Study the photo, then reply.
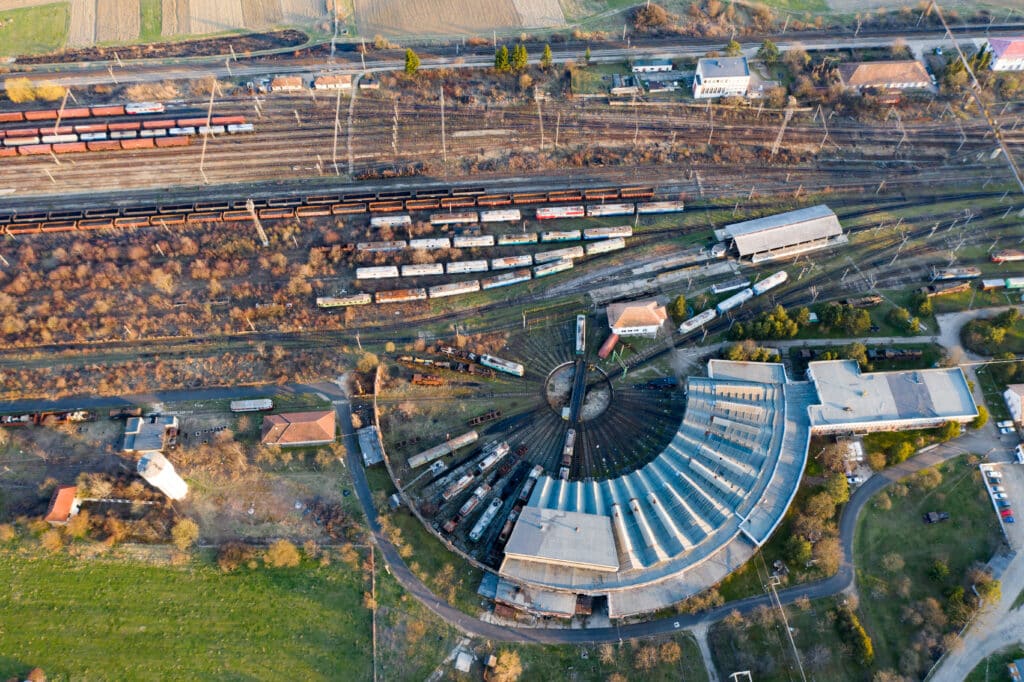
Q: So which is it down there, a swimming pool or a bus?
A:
bus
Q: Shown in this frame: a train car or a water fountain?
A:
train car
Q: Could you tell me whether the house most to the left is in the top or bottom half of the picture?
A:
bottom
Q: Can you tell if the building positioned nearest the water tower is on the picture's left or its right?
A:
left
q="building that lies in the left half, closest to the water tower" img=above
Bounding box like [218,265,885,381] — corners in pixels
[124,417,183,456]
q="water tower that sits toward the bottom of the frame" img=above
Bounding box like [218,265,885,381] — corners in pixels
[134,445,191,503]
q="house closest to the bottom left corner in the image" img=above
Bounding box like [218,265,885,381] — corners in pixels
[45,487,80,527]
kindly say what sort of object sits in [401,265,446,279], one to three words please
rail car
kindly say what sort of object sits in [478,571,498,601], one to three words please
shed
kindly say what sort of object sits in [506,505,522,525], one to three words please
rail car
